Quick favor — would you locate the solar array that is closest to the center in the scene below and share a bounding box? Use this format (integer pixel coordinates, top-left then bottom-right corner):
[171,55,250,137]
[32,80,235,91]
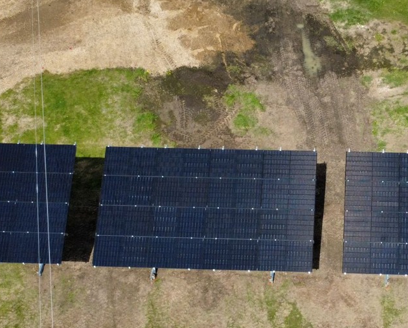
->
[93,143,317,283]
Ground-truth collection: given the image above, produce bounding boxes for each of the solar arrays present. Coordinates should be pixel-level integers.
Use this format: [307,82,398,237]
[93,143,317,283]
[343,148,408,288]
[0,140,76,276]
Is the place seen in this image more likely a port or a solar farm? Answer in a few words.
solar farm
